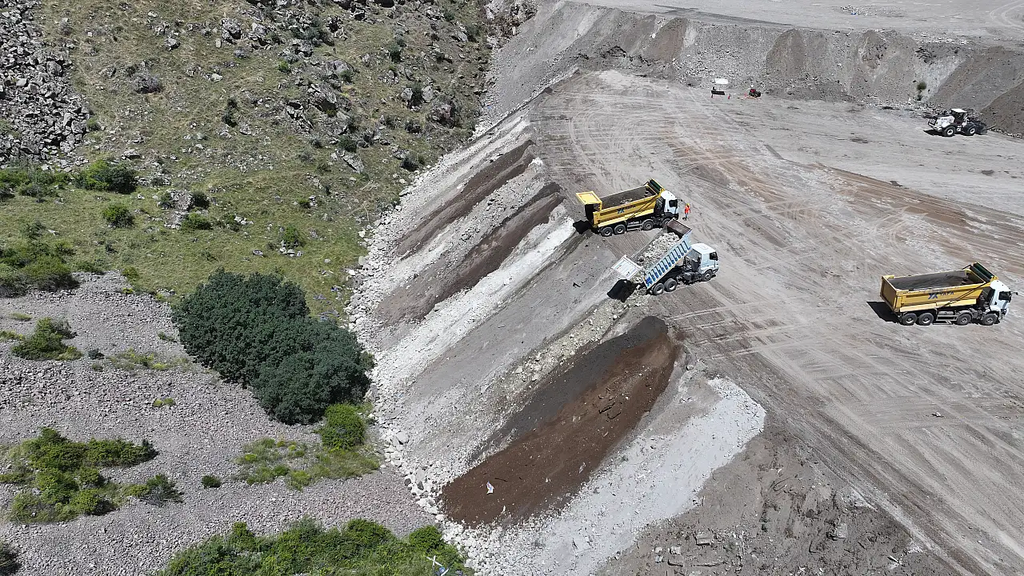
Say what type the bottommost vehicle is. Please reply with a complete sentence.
In the photo, the bottommost vehicle shows up as a truck.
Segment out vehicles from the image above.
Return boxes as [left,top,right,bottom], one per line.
[926,108,988,136]
[570,179,683,236]
[880,263,1021,324]
[612,221,727,295]
[749,89,762,97]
